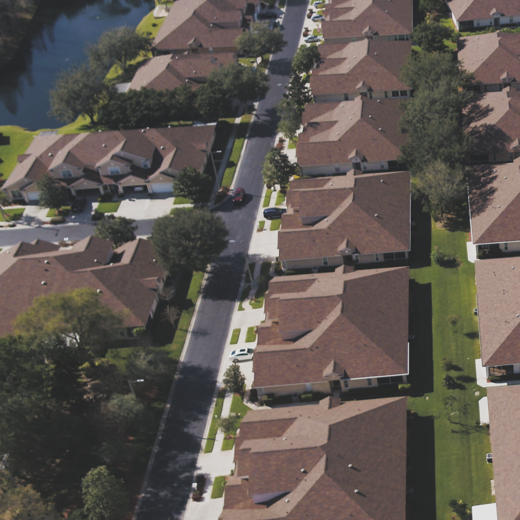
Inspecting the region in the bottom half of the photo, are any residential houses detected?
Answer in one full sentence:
Yes, a residential house is visible in the bottom half of the photo.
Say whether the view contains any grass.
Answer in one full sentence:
Yes, grass can be seen from above here.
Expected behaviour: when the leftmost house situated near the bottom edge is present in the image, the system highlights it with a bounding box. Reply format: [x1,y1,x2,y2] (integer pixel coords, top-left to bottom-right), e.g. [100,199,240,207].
[212,393,408,520]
